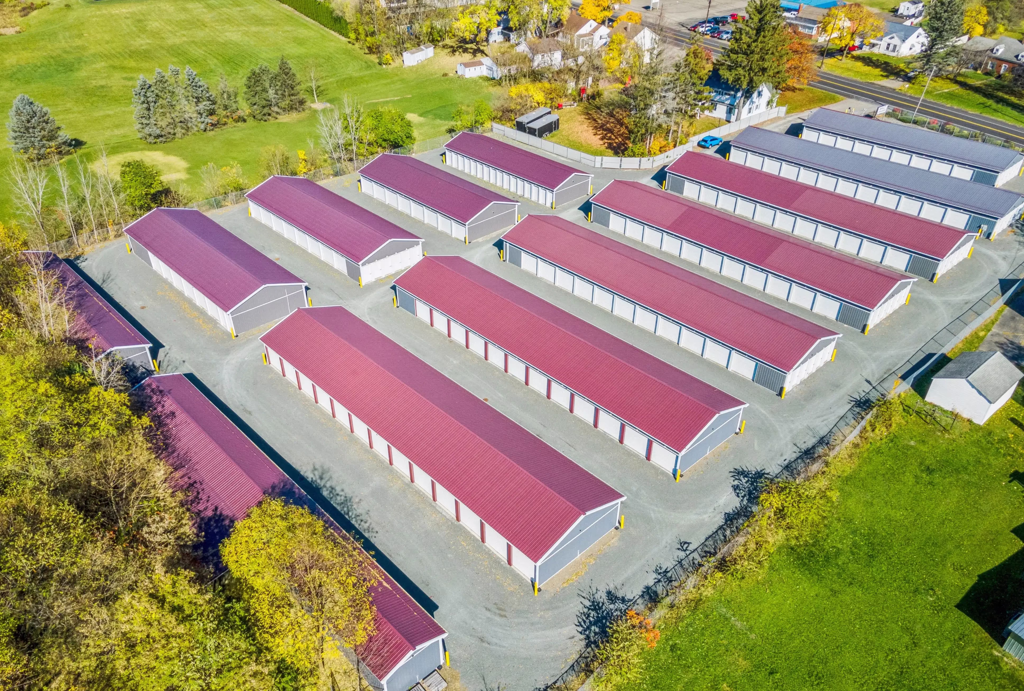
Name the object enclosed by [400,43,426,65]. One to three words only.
shed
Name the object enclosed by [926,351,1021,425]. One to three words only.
building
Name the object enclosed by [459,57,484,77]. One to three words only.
shed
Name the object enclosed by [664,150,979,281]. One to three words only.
building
